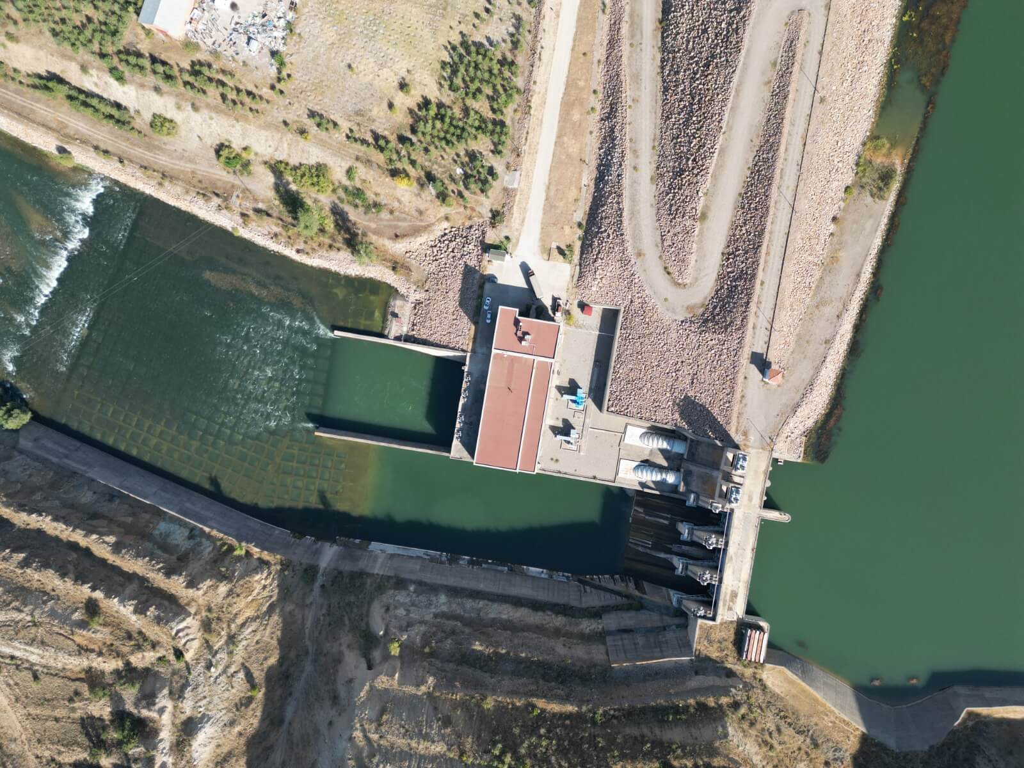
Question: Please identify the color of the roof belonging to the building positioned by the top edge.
white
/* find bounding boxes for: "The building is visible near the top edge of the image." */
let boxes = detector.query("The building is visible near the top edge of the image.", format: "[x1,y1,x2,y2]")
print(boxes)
[138,0,194,42]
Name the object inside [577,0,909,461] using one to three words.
dam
